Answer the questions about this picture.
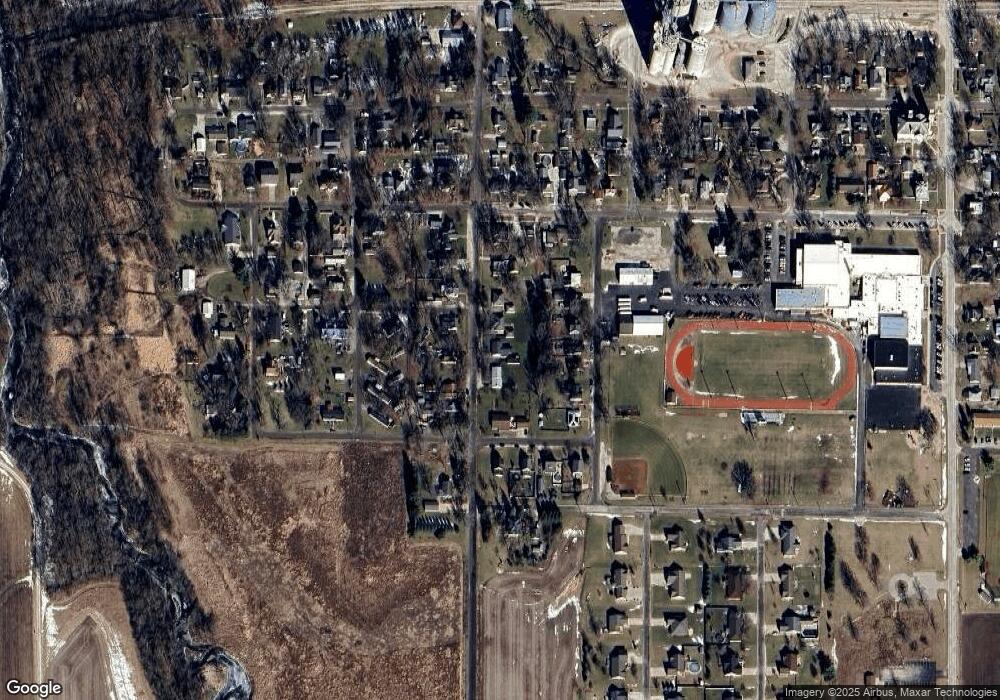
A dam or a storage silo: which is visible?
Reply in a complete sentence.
I can see a storage silo in this picture.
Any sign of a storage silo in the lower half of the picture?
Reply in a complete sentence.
No, looking in the lower half of the picture, there is no storage silo.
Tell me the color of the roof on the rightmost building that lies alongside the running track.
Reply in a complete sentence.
The roof of the rightmost building that lies alongside the running track is white.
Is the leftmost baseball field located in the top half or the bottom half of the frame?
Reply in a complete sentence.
You can find the leftmost baseball field in the bottom half.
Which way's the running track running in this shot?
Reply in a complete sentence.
The running track is laid out from left to right.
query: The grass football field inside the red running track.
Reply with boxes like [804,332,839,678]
[703,331,849,400]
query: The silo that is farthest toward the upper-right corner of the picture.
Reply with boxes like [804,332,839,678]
[749,0,780,35]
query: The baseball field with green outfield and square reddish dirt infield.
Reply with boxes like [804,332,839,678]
[611,422,686,496]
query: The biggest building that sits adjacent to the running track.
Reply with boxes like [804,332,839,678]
[775,241,924,386]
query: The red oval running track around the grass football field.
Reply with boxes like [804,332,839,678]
[666,320,858,410]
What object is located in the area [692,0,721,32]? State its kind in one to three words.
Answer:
silo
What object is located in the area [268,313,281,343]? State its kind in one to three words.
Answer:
house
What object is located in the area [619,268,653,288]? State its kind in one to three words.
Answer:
building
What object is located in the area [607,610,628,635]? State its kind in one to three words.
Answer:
house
